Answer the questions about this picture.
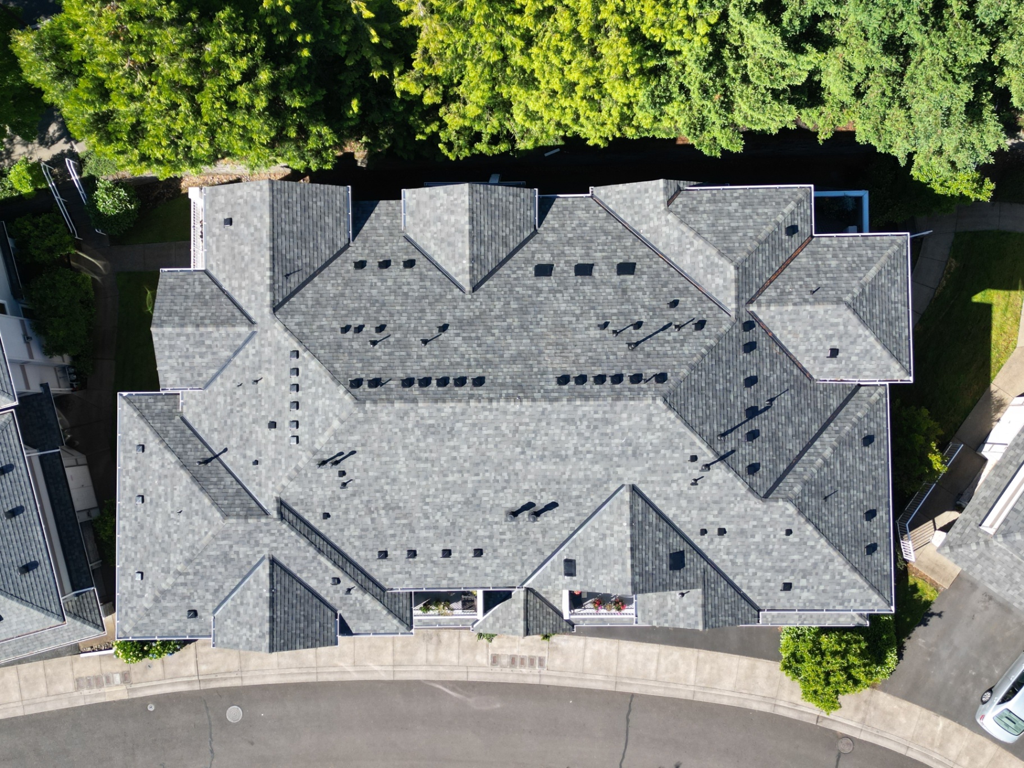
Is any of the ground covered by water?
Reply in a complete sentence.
No, there's no water in this view.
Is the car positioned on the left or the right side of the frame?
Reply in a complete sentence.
The car appears in the right half of the scene.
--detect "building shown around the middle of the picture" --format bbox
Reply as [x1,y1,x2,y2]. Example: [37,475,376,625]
[116,174,934,653]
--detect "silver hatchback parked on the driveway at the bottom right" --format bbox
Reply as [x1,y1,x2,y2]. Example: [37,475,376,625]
[979,649,1024,744]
